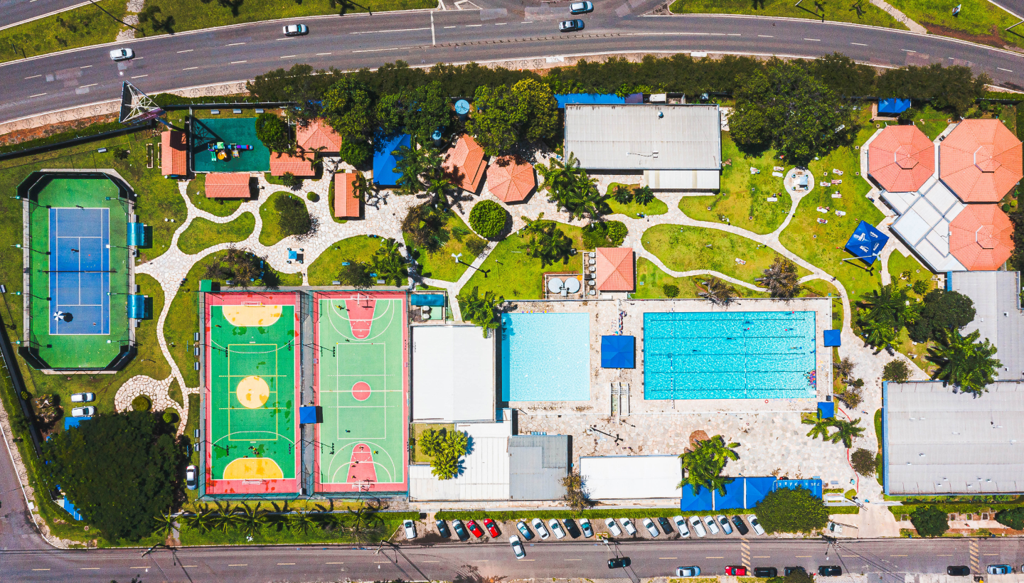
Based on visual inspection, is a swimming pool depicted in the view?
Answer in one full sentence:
Yes, a swimming pool appears in the view.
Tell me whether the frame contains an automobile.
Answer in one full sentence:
Yes, the photo shows an automobile.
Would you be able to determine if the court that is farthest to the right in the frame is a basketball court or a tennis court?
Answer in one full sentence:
It looks like the court that is farthest to the right is a basketball court.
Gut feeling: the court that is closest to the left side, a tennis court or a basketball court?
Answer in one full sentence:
From above, the court that is closest to the left side can be identified as a tennis court.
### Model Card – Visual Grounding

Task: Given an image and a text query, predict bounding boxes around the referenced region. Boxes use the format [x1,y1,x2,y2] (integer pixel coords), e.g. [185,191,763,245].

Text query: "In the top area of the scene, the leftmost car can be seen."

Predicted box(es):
[109,46,135,61]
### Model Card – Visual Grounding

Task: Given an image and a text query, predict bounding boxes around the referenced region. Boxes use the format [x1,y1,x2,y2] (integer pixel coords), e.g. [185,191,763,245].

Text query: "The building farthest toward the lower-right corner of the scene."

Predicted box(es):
[880,376,1024,495]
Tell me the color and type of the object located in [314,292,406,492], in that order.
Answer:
green basketball court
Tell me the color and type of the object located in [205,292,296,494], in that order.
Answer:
green sports court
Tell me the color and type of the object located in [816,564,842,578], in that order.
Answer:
black car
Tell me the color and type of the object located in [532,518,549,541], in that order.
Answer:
white car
